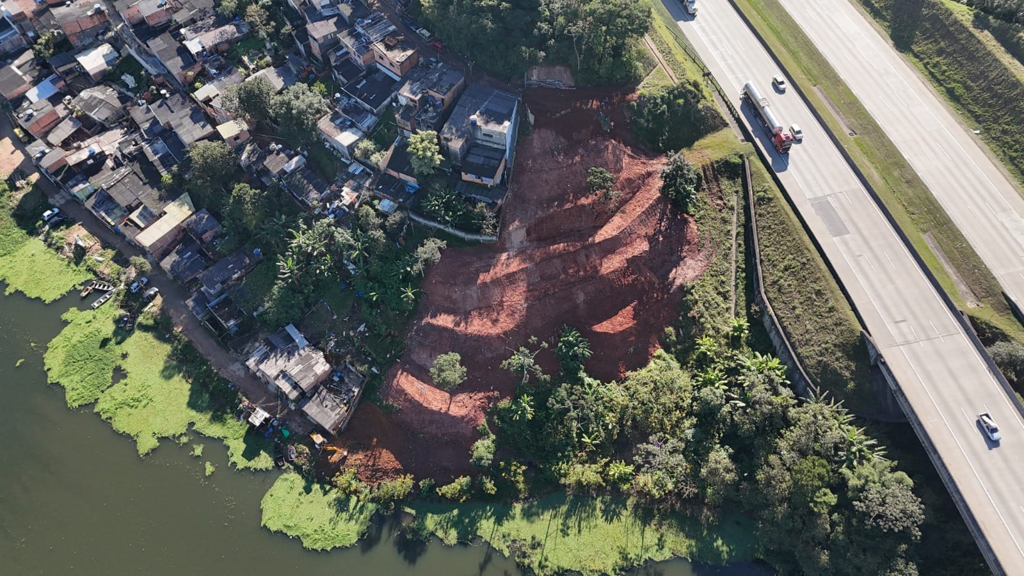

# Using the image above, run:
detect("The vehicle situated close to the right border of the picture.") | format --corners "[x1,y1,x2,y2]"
[975,410,1002,442]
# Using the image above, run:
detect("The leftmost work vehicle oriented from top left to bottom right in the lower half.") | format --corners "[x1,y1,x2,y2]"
[303,425,347,456]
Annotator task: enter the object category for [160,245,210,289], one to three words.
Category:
house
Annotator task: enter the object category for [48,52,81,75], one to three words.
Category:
shed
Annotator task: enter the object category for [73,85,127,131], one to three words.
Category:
house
